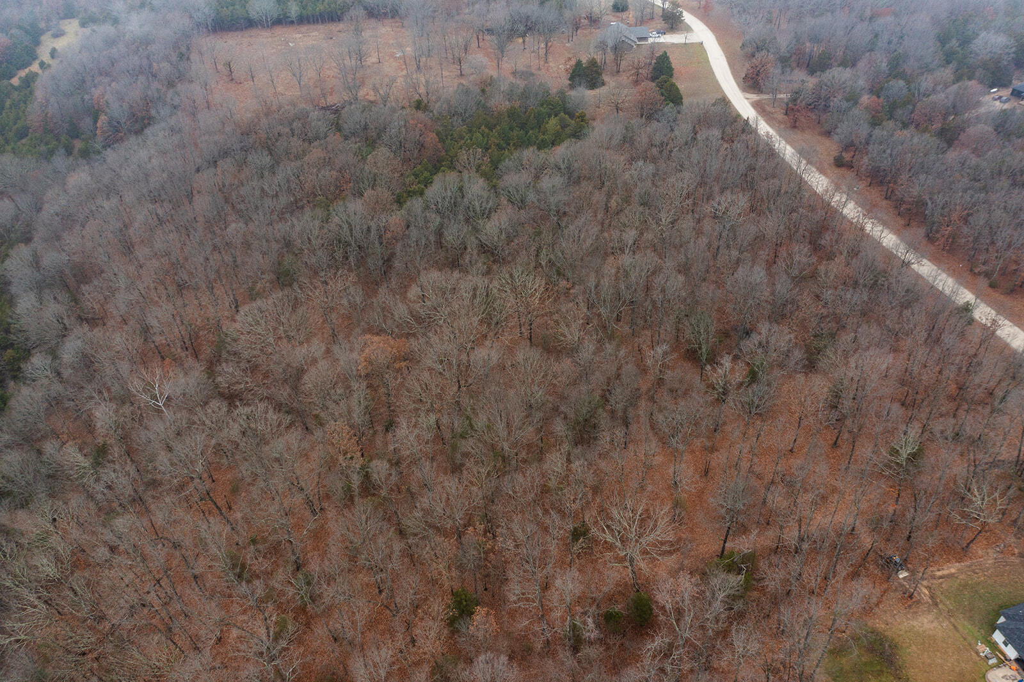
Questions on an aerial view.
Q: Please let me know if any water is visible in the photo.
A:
No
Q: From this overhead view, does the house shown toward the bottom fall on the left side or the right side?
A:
right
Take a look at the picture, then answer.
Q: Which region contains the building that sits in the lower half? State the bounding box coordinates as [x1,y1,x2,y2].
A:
[990,592,1024,663]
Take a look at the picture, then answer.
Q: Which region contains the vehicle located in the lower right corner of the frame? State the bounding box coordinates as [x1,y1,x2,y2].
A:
[882,550,914,585]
